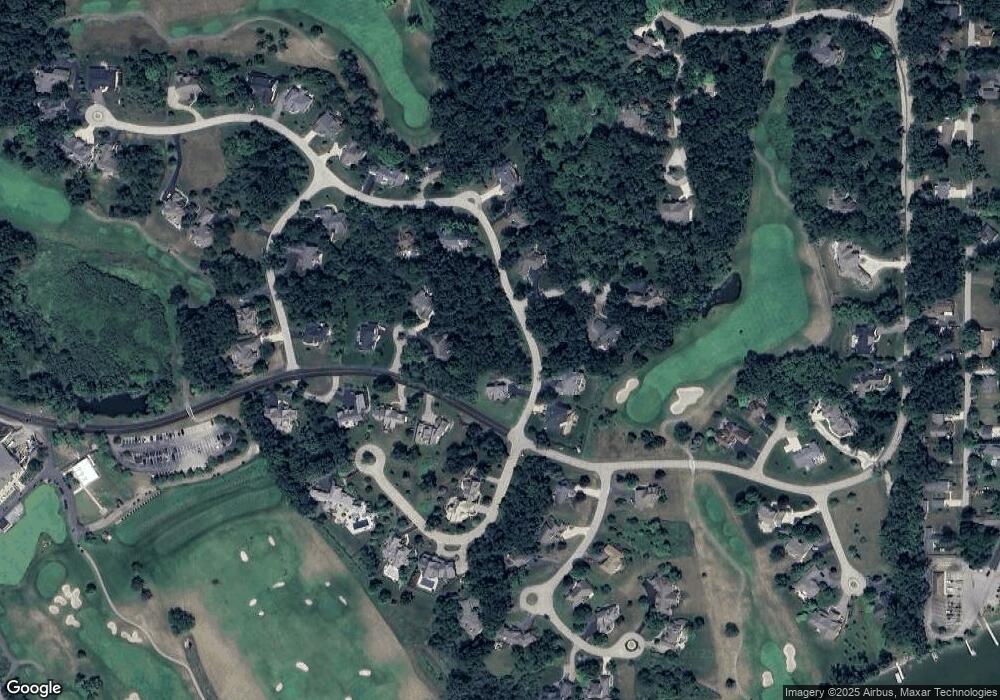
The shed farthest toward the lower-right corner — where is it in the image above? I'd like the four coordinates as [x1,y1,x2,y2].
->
[934,571,947,597]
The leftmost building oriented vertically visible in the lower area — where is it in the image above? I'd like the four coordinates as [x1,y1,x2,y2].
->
[0,426,36,502]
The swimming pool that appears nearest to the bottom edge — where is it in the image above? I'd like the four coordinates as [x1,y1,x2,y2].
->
[417,575,438,592]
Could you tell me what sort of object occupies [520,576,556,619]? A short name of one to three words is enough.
roundabout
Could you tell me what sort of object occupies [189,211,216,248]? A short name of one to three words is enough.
house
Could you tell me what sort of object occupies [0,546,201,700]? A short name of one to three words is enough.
golf course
